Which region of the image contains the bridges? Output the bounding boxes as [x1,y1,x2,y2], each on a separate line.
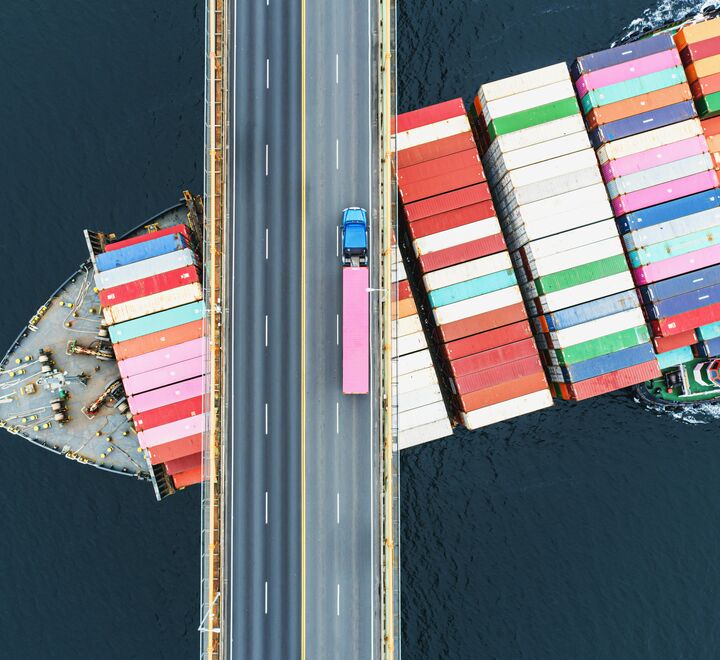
[200,0,399,660]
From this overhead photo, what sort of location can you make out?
port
